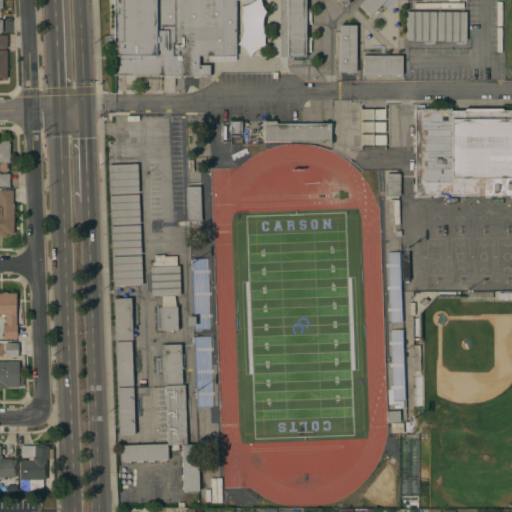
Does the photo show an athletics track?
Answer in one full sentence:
Yes, the photo shows an athletics track.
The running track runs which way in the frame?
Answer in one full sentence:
The running track runs up and down in the image.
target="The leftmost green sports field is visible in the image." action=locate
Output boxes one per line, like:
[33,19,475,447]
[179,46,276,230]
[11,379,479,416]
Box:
[232,210,368,443]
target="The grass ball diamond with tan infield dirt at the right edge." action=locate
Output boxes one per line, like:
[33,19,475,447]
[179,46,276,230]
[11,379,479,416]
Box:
[414,296,512,508]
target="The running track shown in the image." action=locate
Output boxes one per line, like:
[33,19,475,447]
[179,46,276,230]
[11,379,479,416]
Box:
[212,144,388,506]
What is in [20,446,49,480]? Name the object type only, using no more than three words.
house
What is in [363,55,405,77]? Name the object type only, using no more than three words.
building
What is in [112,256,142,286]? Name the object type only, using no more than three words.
building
